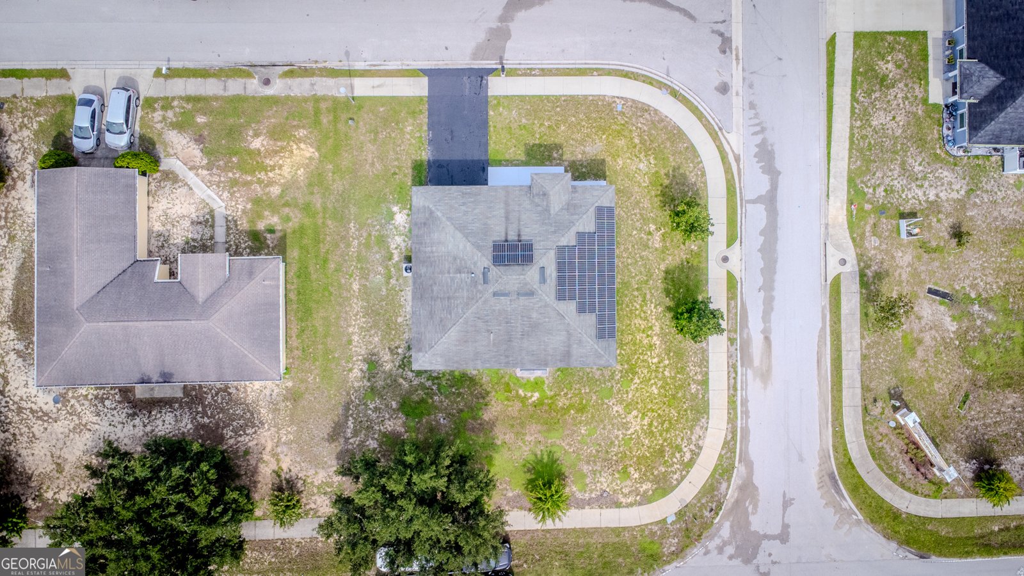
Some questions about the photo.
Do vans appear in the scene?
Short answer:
Yes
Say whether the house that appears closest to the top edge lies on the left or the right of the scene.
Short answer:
right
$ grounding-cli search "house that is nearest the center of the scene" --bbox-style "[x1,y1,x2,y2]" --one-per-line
[411,172,617,371]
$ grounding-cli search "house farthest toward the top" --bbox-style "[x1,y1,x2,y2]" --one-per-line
[940,0,1024,148]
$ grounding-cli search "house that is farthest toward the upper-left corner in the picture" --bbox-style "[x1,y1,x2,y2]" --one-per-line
[34,167,291,388]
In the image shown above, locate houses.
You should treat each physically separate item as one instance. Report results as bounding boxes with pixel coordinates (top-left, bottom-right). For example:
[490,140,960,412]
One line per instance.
[940,0,1024,148]
[411,172,617,371]
[34,167,291,388]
